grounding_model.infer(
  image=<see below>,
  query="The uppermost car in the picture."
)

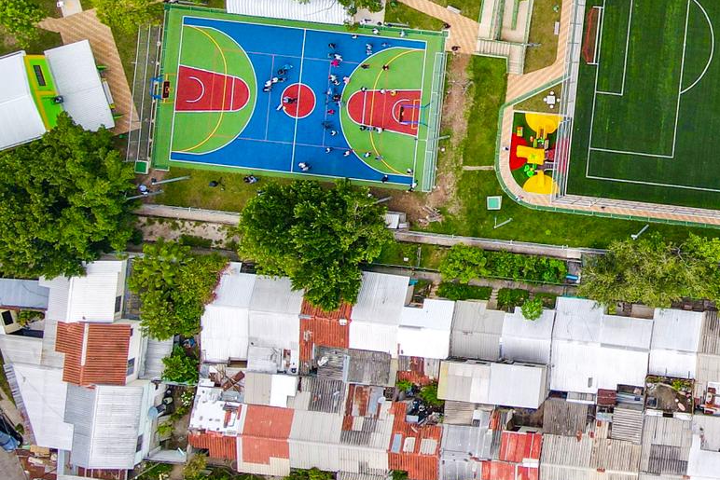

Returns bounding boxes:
[0,417,26,457]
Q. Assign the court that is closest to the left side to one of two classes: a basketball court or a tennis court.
basketball court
